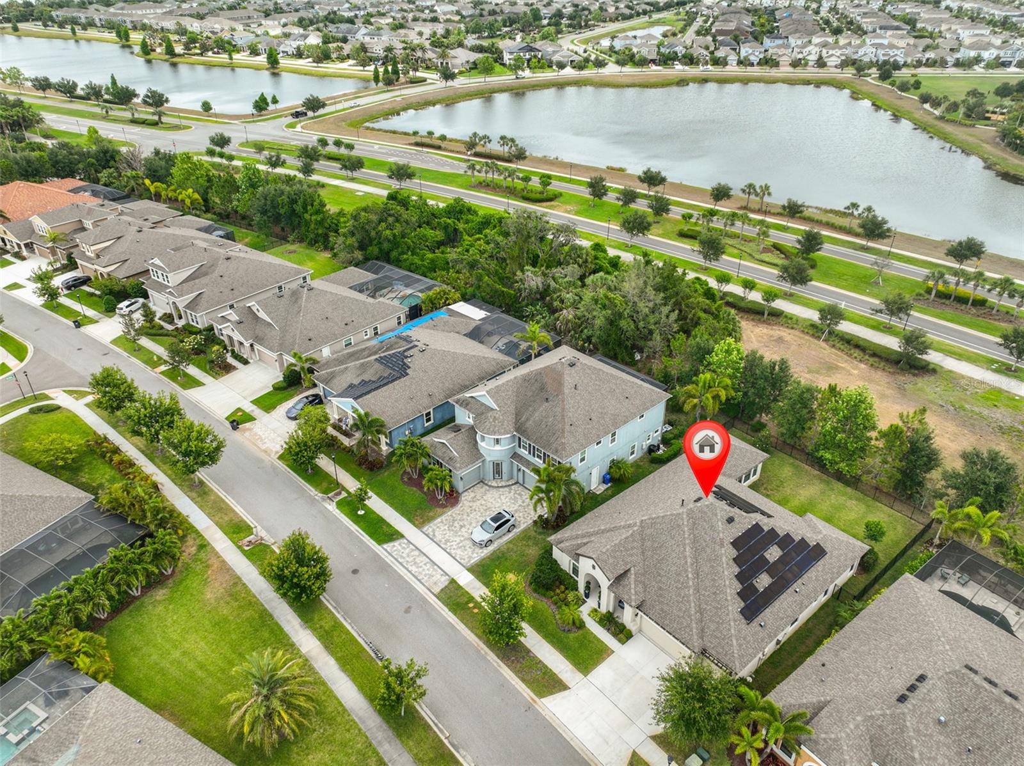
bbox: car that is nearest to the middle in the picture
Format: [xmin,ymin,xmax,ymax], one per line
[470,511,520,551]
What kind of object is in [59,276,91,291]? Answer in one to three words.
car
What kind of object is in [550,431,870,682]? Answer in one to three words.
house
